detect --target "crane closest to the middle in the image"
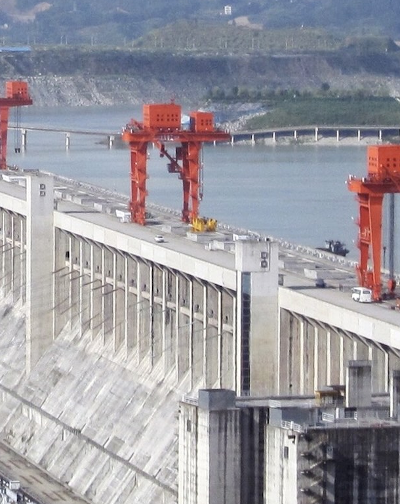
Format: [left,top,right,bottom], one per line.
[118,96,229,224]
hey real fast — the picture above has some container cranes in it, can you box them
[0,77,25,168]
[342,143,400,299]
[118,96,229,224]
